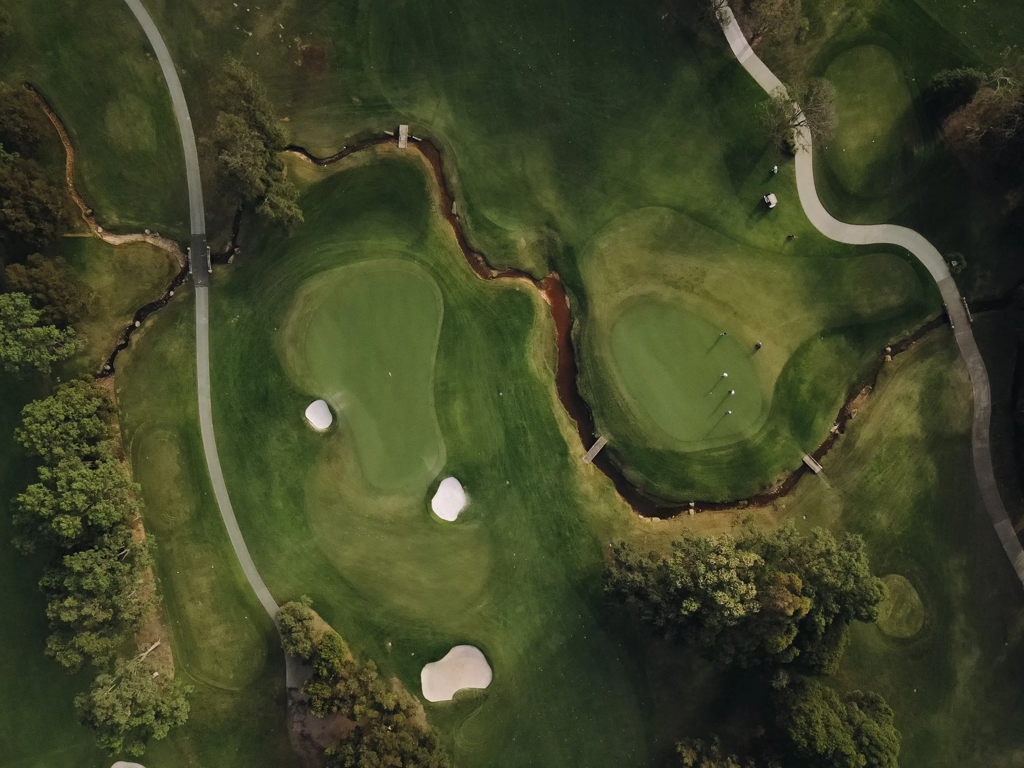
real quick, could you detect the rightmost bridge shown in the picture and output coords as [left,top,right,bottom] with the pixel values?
[938,276,976,334]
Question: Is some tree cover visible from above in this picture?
Yes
